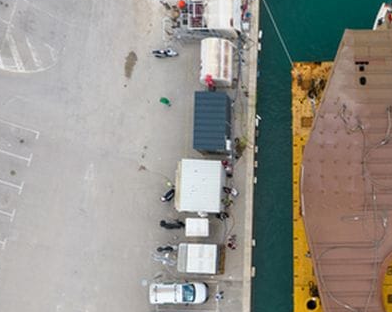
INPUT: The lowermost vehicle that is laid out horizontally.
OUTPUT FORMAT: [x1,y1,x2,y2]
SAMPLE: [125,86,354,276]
[150,280,206,306]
